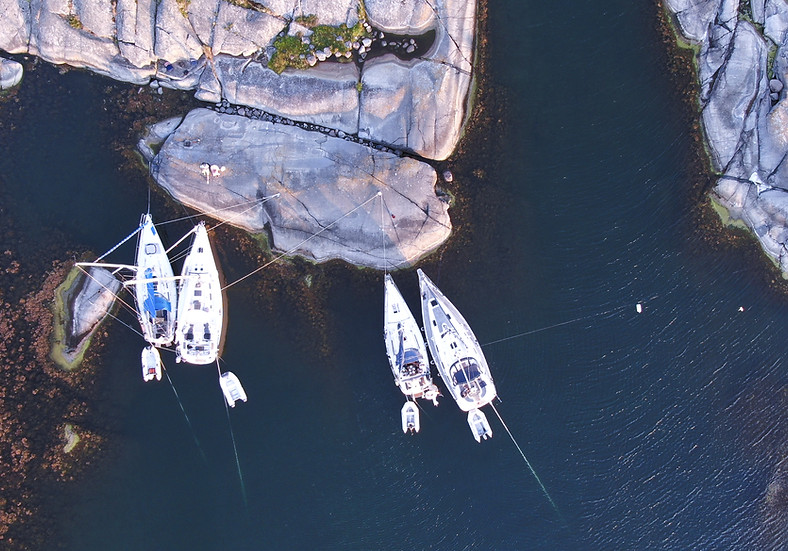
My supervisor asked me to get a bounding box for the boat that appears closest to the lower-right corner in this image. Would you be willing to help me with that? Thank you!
[469,411,492,444]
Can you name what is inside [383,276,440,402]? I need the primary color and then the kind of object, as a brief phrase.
white boat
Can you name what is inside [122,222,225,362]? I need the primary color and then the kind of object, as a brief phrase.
white boat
